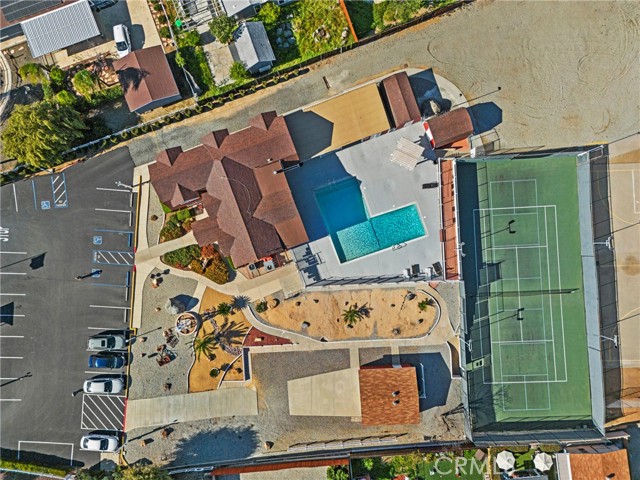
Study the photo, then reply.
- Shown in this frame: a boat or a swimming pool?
swimming pool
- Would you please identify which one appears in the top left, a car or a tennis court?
car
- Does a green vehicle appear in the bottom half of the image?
No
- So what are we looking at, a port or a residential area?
residential area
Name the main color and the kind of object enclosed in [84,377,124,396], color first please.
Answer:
white car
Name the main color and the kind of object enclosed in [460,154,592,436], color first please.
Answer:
green tennis court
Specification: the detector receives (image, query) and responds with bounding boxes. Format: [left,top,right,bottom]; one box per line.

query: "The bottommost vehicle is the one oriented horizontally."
[81,432,120,451]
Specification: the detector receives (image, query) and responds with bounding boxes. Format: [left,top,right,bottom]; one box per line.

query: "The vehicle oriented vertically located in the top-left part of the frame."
[112,22,134,59]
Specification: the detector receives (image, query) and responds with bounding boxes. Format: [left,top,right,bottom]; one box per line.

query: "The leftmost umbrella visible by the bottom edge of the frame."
[496,450,515,469]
